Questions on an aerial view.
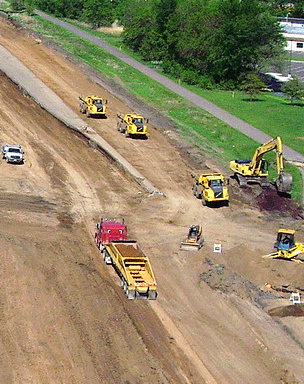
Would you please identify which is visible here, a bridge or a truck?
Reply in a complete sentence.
The one in the frame is a truck.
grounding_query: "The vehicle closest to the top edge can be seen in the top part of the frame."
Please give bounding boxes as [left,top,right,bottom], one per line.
[83,88,109,114]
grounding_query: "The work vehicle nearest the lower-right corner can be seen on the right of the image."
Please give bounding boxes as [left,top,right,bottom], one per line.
[250,228,304,264]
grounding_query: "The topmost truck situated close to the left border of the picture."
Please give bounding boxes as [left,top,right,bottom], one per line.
[0,142,26,164]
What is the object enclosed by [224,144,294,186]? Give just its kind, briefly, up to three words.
work vehicle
